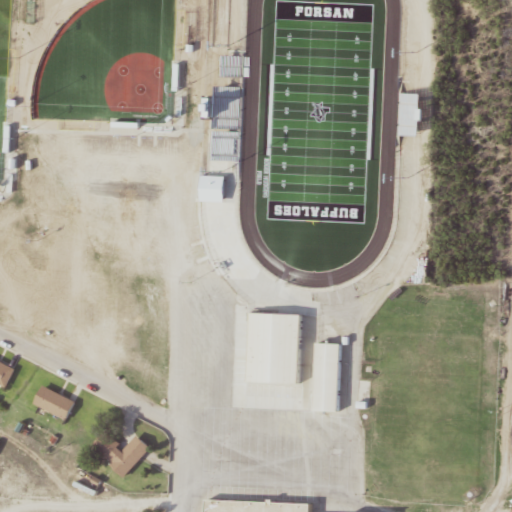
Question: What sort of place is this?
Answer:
sports ground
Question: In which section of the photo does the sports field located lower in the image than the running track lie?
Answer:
bottom right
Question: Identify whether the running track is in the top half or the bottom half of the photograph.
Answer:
top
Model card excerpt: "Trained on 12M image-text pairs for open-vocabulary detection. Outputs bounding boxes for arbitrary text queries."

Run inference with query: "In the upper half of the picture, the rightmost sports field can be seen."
[254,0,386,272]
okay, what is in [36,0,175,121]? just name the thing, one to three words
baseball field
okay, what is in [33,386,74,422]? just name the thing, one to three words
house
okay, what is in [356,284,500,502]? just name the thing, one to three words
sports field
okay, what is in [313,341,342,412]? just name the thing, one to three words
building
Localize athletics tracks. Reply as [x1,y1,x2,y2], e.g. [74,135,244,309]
[240,0,400,286]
